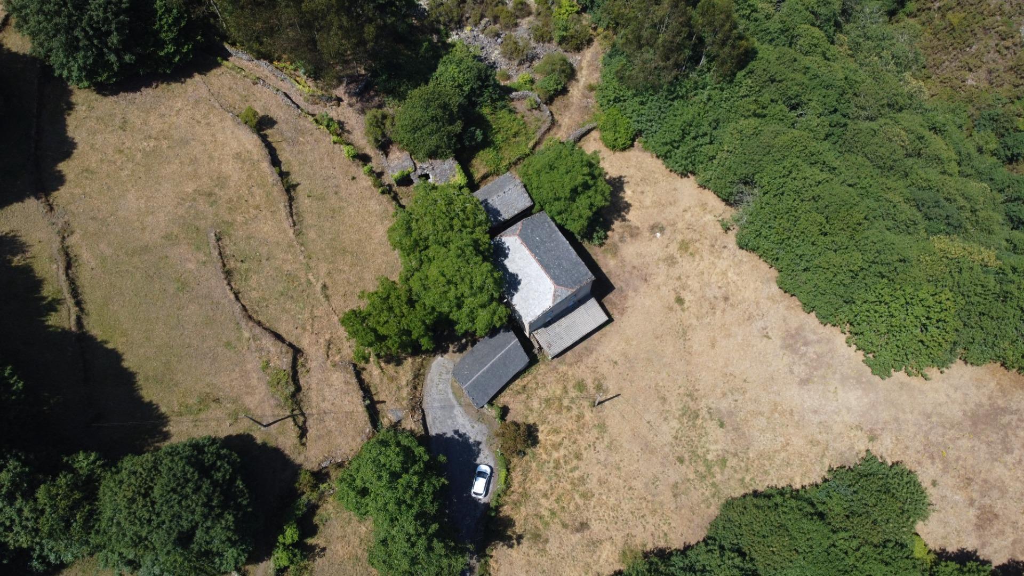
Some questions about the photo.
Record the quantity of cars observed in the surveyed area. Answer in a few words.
1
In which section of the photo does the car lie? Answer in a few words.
bottom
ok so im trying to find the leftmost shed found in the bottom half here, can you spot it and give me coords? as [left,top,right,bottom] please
[452,326,529,410]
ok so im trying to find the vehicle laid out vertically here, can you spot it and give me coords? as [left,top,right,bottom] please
[471,464,491,499]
